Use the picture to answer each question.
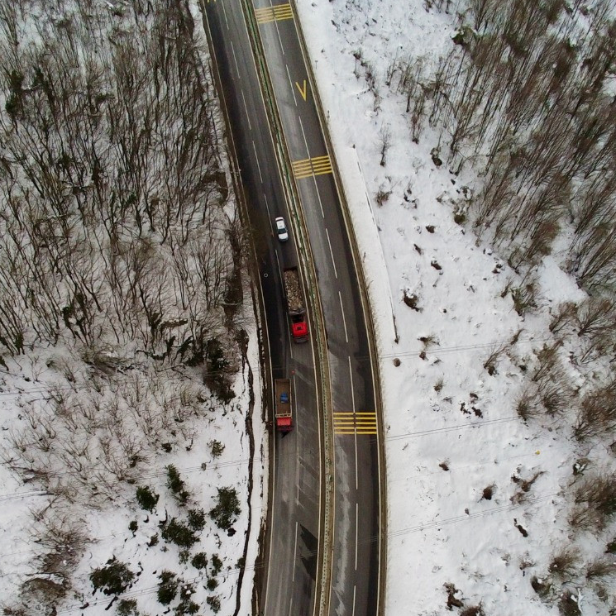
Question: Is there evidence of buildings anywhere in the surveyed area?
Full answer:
No, no building is visible in the view.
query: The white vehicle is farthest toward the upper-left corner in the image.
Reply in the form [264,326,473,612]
[275,219,288,243]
